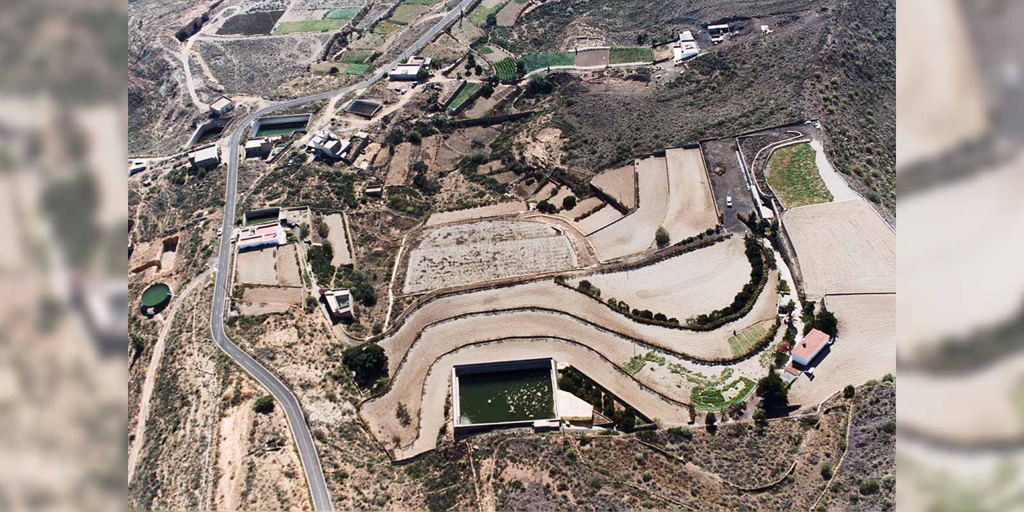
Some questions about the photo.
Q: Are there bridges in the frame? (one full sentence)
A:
No, this view has no bridge in it.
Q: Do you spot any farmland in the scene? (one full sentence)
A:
Yes, the picture does contain farmland.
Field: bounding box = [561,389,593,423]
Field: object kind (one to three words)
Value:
shed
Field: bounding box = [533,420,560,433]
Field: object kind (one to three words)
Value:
shed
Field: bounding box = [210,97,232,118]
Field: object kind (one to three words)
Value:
house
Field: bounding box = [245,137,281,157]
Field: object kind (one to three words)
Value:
house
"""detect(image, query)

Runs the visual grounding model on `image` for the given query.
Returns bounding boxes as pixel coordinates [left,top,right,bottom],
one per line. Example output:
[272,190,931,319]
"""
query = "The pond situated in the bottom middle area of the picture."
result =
[452,358,561,434]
